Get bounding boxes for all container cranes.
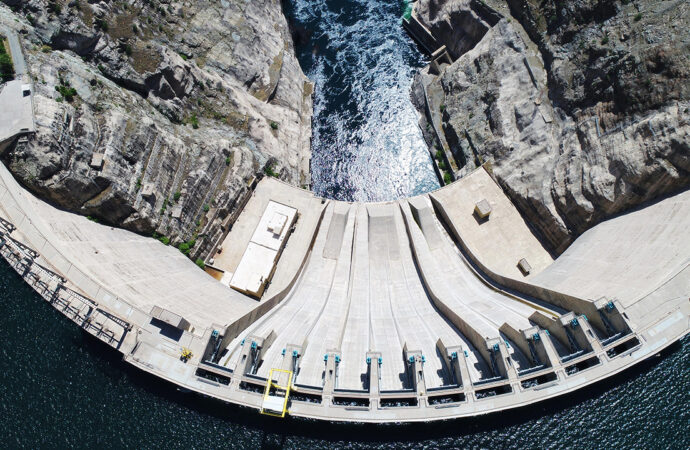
[260,368,294,418]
